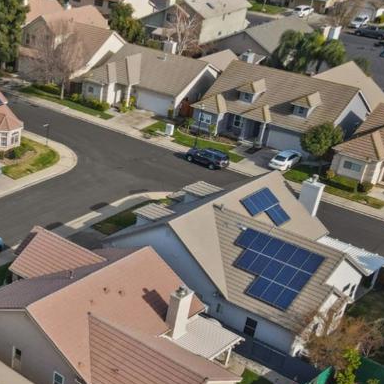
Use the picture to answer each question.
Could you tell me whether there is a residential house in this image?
Yes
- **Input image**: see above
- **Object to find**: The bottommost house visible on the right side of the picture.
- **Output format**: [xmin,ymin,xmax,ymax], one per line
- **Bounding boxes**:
[100,172,361,363]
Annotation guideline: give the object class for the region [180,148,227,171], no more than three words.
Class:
car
